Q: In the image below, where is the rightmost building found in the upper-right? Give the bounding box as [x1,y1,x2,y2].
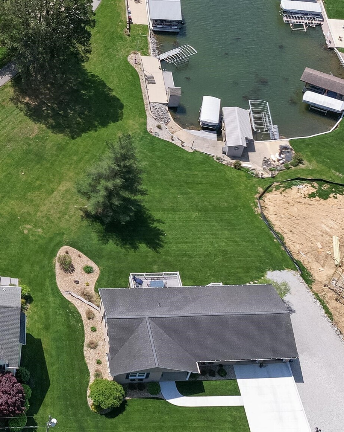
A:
[297,68,344,102]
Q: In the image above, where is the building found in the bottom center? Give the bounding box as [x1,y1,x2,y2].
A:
[97,284,298,388]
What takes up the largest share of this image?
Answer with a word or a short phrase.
grass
